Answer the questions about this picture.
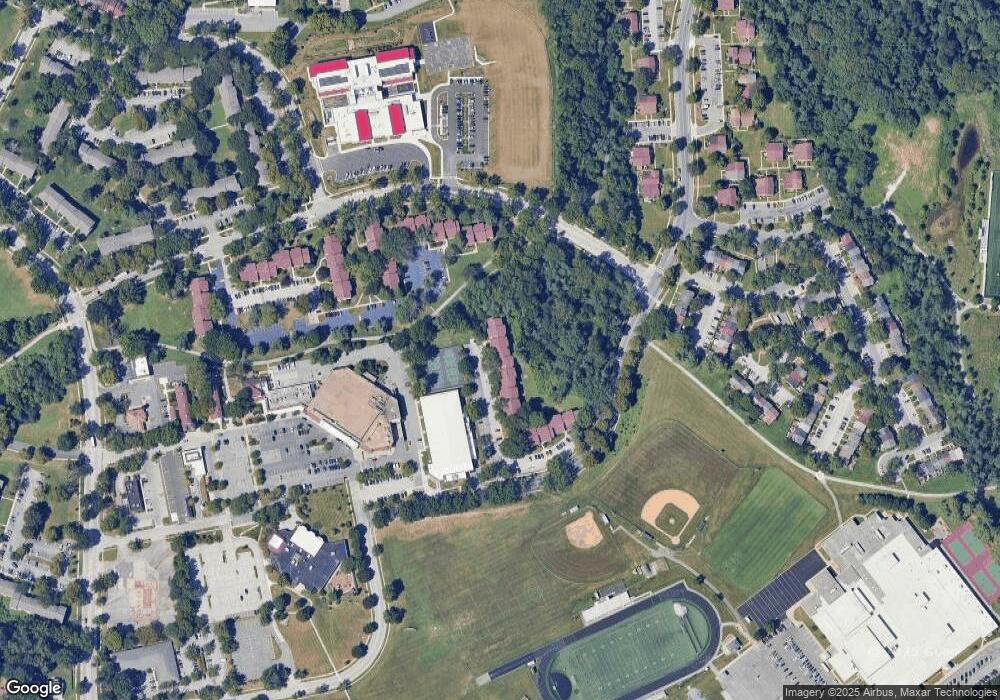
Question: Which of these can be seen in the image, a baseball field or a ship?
baseball field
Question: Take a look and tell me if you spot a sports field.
Yes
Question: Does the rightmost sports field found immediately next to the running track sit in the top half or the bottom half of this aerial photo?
bottom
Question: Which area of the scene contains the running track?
bottom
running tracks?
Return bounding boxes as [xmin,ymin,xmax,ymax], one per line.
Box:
[474,581,716,700]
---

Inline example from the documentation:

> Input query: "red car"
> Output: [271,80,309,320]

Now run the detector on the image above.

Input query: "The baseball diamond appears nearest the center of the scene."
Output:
[566,512,603,549]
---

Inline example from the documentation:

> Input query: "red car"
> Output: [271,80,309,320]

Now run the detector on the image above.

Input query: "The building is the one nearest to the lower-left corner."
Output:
[0,581,67,621]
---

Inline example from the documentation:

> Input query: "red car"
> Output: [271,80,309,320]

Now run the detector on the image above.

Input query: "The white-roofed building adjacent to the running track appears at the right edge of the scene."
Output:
[800,511,1000,700]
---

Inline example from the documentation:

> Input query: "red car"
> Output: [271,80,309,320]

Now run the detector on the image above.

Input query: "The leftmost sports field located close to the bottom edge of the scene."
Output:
[549,598,707,700]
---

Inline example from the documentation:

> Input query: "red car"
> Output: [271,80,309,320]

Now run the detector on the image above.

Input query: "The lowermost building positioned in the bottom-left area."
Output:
[113,641,180,683]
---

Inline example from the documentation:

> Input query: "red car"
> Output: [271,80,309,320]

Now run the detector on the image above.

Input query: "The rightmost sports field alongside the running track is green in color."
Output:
[705,468,828,592]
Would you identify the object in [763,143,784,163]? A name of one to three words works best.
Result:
house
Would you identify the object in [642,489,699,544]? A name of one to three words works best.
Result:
baseball field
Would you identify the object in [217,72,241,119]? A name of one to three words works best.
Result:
building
